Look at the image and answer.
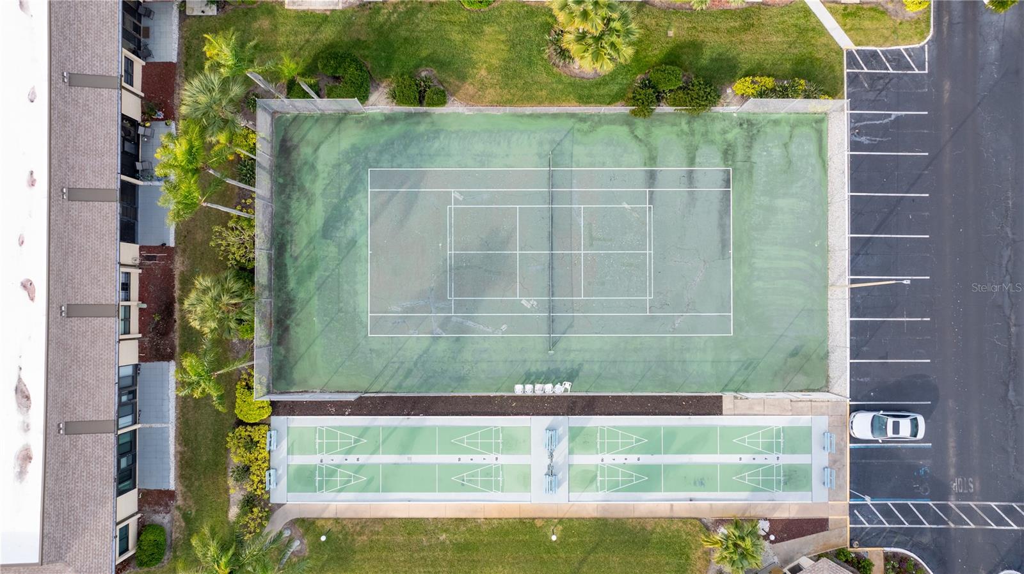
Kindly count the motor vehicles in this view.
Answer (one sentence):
I count just 1 motor vehicle.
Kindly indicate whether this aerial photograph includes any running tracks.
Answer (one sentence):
No, the frame has no running track in it.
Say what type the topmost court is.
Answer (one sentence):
The topmost court is a tennis court.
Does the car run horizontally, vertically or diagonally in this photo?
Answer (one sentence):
I'd say the car is aligned horizontally in the picture.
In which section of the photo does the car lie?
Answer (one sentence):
The car is in the bottom right part of the image.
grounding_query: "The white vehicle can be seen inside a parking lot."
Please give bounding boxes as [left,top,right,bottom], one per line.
[848,409,925,444]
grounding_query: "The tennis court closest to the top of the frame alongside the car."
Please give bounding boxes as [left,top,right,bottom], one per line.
[272,113,828,393]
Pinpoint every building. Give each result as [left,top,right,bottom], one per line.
[0,0,145,574]
[805,559,851,574]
